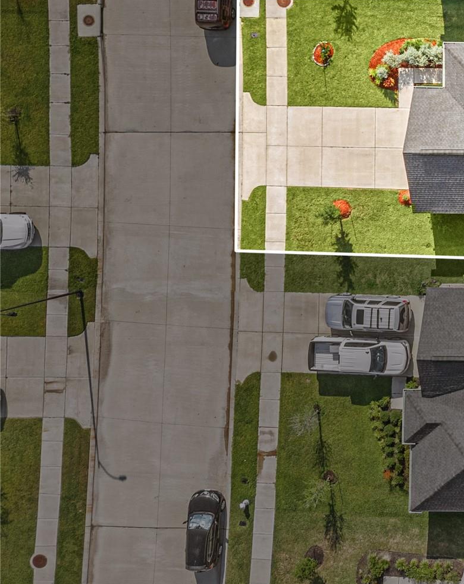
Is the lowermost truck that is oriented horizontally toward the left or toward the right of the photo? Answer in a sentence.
The lowermost truck that is oriented horizontally sits on the right side.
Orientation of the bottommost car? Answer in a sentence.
In this picture, the bottommost car is oriented from top to bottom.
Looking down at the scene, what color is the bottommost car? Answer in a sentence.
The color of the bottommost car is black.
